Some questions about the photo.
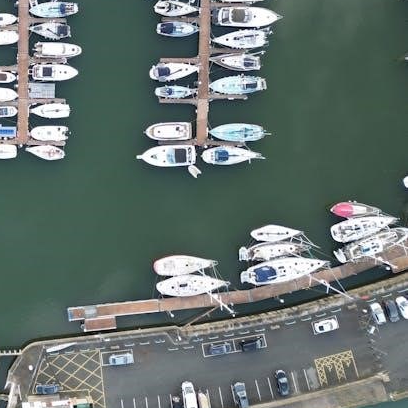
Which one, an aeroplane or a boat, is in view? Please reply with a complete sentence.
The one in the frame is a boat.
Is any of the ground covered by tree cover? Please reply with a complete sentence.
No, there's no tree cover in this view.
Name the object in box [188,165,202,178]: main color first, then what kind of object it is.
white boat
